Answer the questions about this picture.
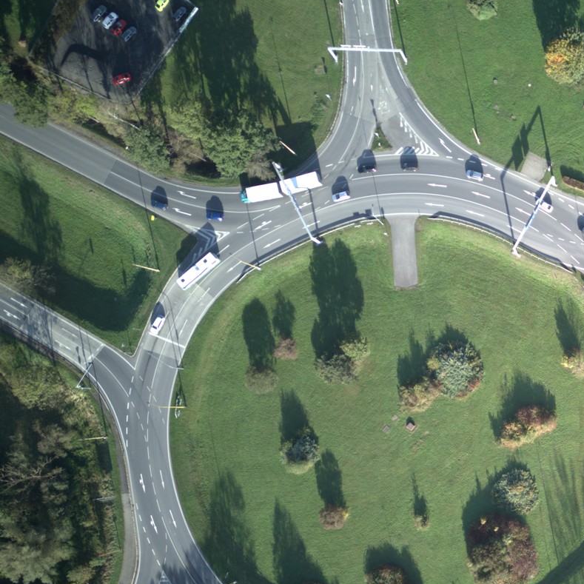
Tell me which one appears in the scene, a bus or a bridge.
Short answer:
bus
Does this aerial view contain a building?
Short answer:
No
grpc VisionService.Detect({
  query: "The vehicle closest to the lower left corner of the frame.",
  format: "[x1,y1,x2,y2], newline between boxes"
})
[148,312,163,332]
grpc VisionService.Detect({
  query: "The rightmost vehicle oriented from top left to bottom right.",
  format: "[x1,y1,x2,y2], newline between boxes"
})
[538,198,556,213]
